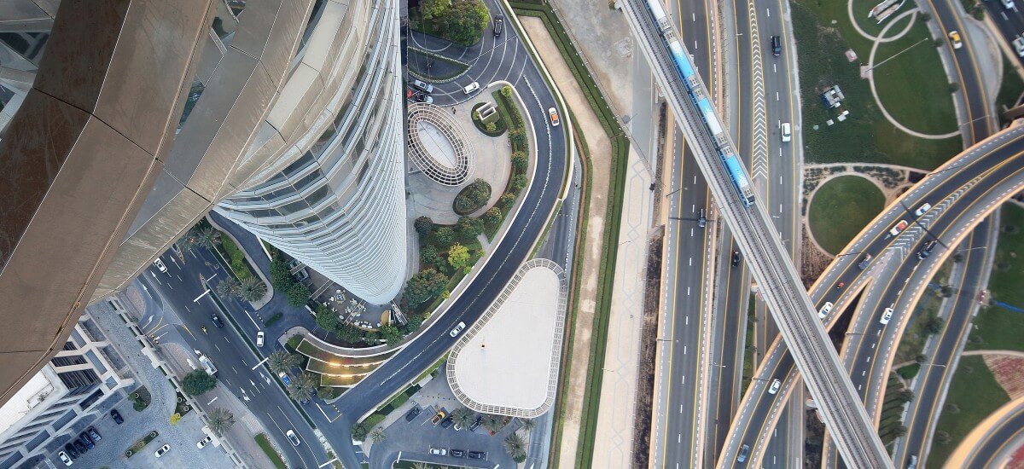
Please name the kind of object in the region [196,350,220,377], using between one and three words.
truck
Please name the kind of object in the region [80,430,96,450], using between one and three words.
car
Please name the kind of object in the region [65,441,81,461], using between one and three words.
car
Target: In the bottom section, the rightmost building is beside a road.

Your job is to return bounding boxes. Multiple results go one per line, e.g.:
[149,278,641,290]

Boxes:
[446,258,567,417]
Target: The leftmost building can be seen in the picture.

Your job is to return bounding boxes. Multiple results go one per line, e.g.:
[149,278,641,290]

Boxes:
[0,316,148,467]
